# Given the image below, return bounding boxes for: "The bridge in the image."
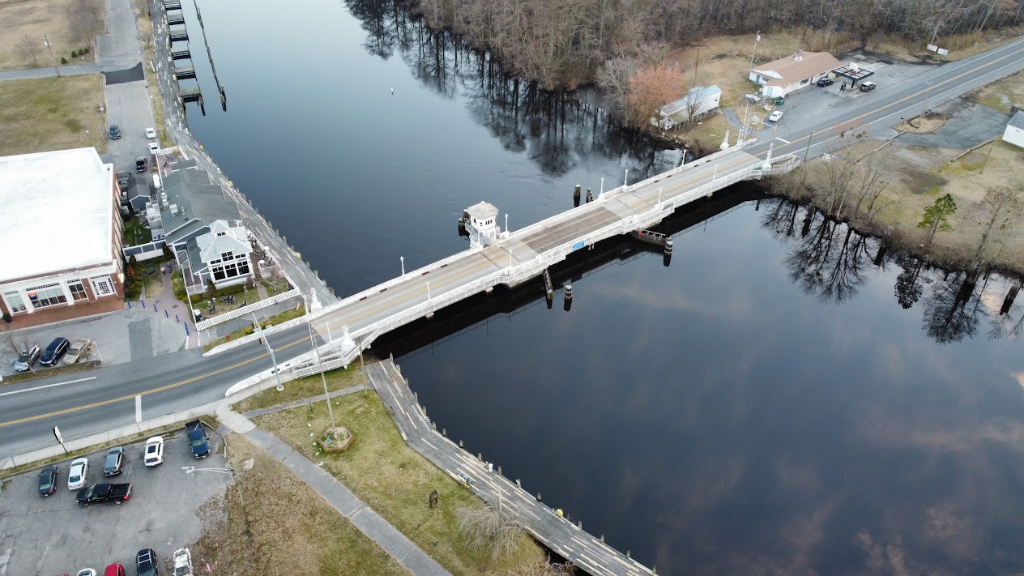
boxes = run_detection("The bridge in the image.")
[202,135,797,400]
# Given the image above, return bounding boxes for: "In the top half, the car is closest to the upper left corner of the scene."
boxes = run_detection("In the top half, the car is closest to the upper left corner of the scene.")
[107,122,120,138]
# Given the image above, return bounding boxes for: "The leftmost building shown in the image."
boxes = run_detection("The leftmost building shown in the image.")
[0,145,128,320]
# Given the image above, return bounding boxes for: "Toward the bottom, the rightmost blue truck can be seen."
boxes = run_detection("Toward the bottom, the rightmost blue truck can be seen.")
[185,415,209,457]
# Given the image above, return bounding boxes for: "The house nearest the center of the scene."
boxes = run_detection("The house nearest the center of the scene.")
[457,203,511,252]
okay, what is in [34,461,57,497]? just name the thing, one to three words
car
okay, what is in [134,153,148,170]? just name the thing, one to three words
vehicle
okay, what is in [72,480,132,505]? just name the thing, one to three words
truck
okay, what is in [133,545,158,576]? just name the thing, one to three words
car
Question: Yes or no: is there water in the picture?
Yes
